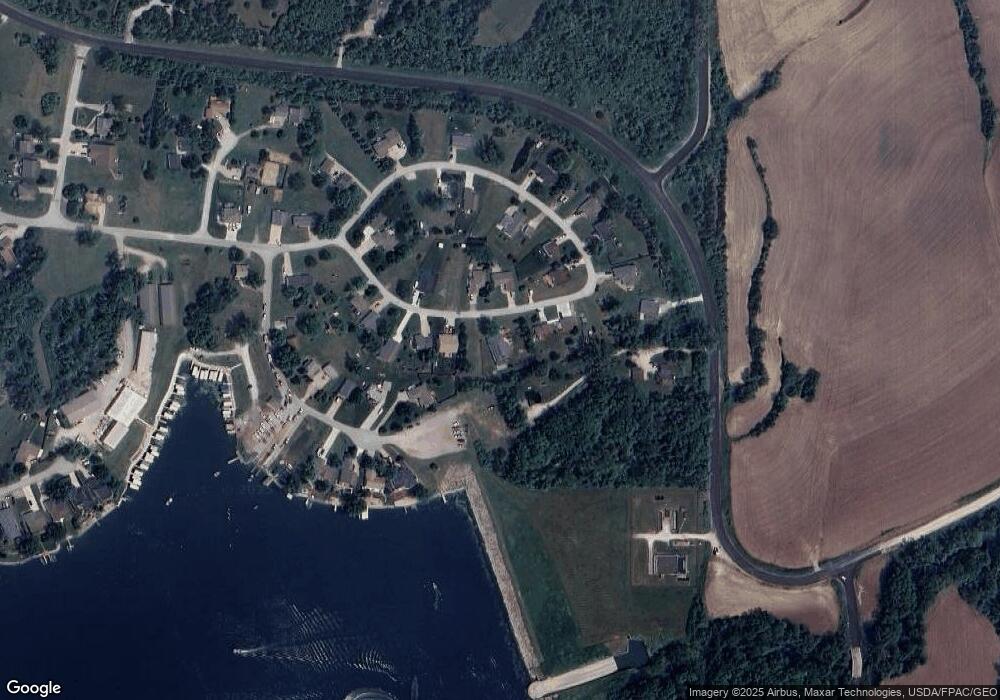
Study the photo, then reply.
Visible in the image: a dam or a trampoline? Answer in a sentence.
Visible in the photo is a dam.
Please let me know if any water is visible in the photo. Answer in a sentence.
Yes, water shows up in the scene.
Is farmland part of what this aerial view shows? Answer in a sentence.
Yes, the picture does contain farmland.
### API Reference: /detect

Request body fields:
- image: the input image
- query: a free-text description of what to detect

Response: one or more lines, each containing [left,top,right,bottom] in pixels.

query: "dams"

[469,469,562,677]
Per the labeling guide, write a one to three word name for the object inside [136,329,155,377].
building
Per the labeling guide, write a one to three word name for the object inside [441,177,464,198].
house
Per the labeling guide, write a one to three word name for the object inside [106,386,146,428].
building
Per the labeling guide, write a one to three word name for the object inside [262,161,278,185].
house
